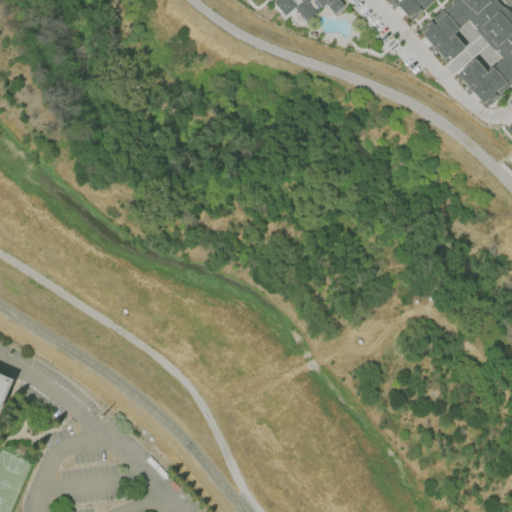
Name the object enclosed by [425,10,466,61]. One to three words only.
building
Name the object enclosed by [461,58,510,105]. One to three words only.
building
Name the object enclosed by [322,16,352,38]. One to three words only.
swimming pool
